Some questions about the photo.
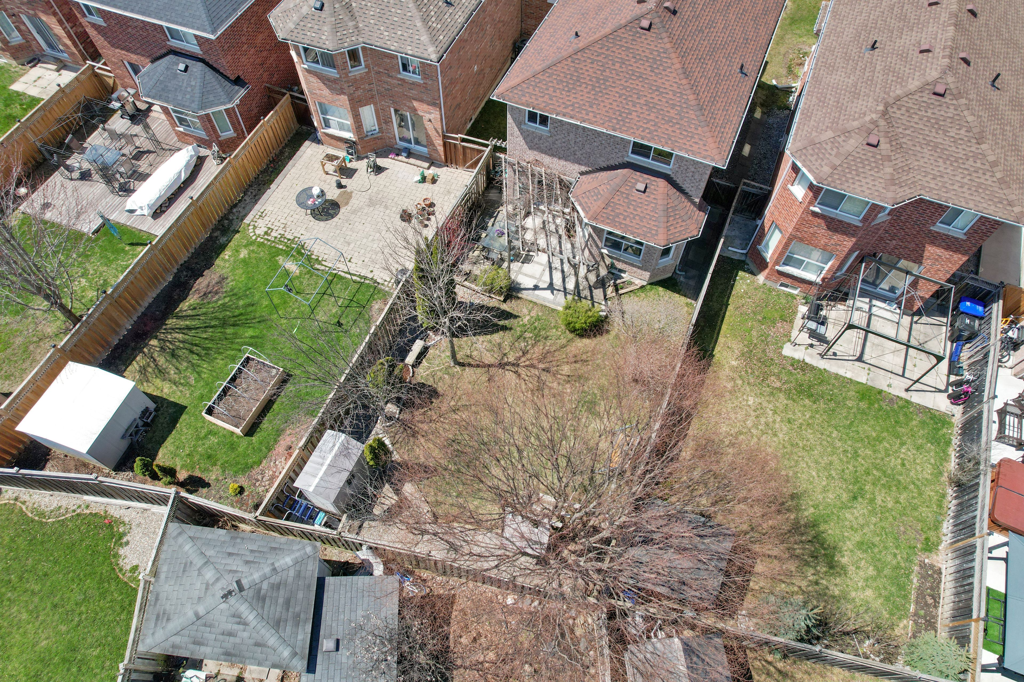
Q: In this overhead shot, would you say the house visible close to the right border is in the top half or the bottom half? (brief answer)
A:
top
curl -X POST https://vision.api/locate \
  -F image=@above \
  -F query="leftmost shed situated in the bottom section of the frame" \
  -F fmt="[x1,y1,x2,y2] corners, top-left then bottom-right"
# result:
[15,361,154,467]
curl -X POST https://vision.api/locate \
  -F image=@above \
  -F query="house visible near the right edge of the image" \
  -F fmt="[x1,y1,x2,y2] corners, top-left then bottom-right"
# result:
[739,0,1024,312]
